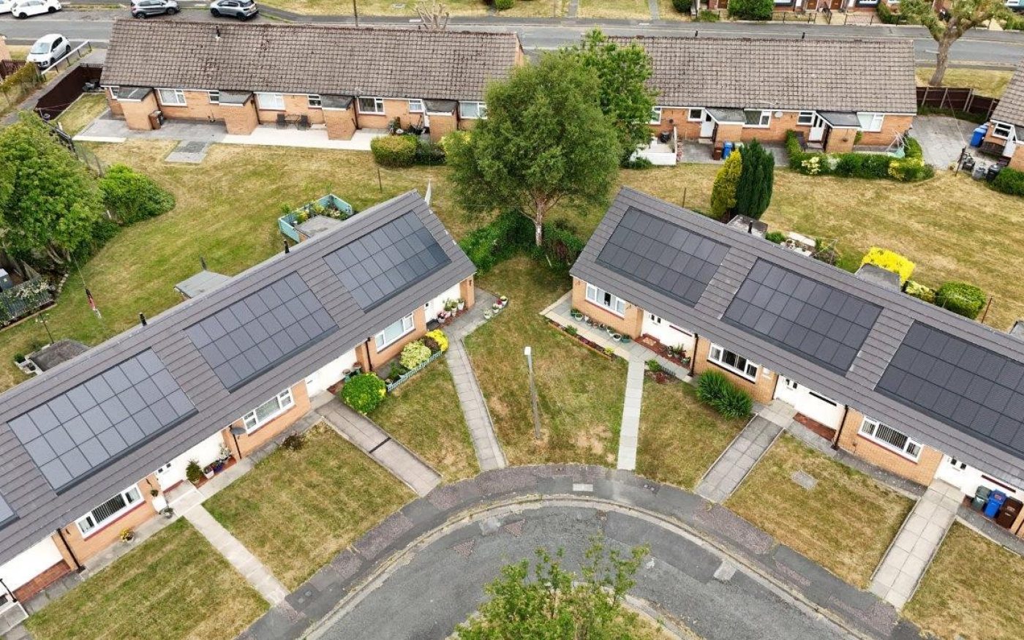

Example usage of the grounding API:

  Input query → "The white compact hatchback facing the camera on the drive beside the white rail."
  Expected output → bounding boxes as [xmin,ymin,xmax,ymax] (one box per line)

[24,30,70,65]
